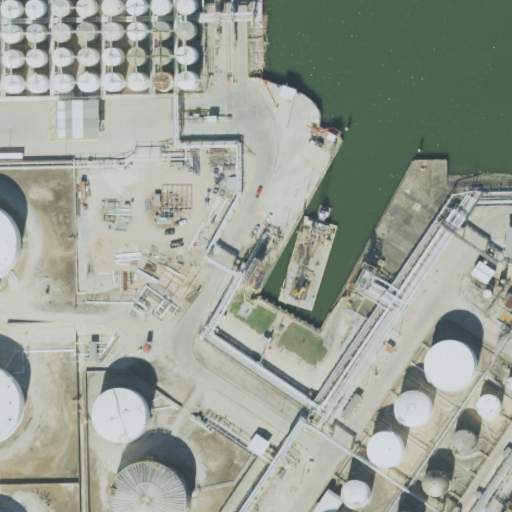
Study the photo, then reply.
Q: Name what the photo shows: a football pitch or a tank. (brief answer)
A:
tank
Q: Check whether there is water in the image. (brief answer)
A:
Yes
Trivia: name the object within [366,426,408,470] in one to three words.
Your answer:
storage tank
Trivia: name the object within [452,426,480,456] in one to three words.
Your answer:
storage tank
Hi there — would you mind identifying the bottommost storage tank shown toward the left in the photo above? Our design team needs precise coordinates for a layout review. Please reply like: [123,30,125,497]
[110,458,190,512]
